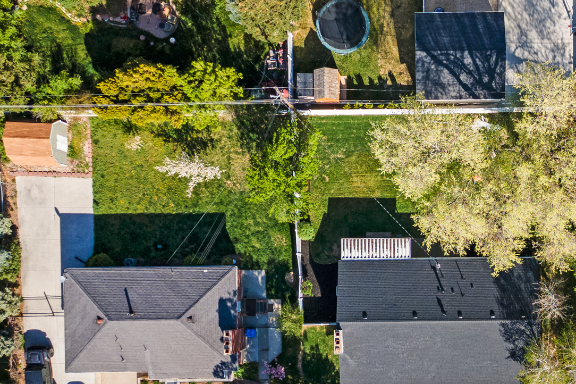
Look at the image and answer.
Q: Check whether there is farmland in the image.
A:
No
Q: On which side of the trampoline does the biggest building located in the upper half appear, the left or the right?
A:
to the right of it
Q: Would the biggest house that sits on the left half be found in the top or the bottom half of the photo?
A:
bottom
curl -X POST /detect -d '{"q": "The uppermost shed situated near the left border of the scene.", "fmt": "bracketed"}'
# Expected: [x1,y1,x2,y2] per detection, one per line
[3,120,69,166]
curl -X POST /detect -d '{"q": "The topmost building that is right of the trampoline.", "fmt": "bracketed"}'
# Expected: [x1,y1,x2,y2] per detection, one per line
[417,12,506,102]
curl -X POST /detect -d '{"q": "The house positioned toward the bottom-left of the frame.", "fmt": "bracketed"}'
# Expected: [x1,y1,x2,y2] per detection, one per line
[56,265,248,382]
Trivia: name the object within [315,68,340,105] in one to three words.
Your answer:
shed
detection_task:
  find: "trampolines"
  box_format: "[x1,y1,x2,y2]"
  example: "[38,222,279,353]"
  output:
[315,0,370,53]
